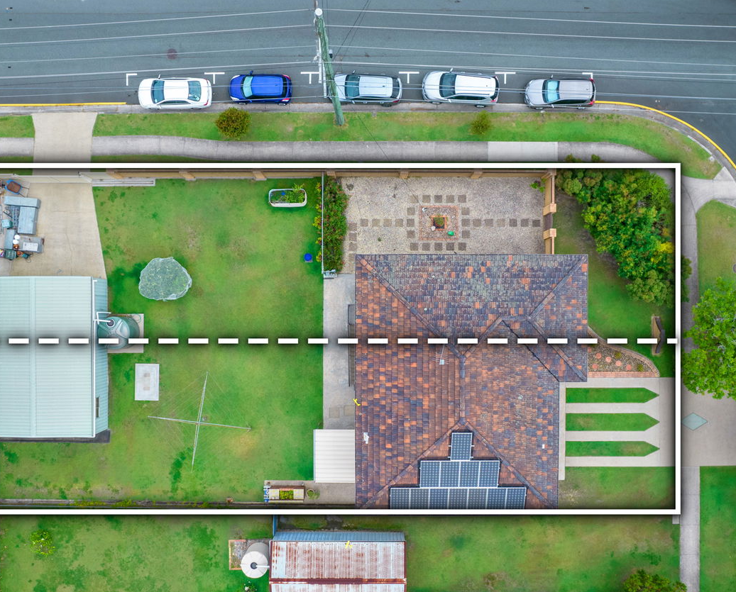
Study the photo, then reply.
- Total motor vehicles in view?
5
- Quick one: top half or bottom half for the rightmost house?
bottom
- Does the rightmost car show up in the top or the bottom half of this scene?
top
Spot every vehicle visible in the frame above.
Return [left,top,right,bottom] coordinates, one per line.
[140,73,214,111]
[421,69,499,109]
[229,71,293,108]
[522,72,595,111]
[336,70,403,108]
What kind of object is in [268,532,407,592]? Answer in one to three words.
shed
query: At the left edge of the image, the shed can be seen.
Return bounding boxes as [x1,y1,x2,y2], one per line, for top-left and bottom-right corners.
[0,274,108,440]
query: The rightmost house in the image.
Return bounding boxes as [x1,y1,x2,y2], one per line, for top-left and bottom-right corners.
[349,253,590,519]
